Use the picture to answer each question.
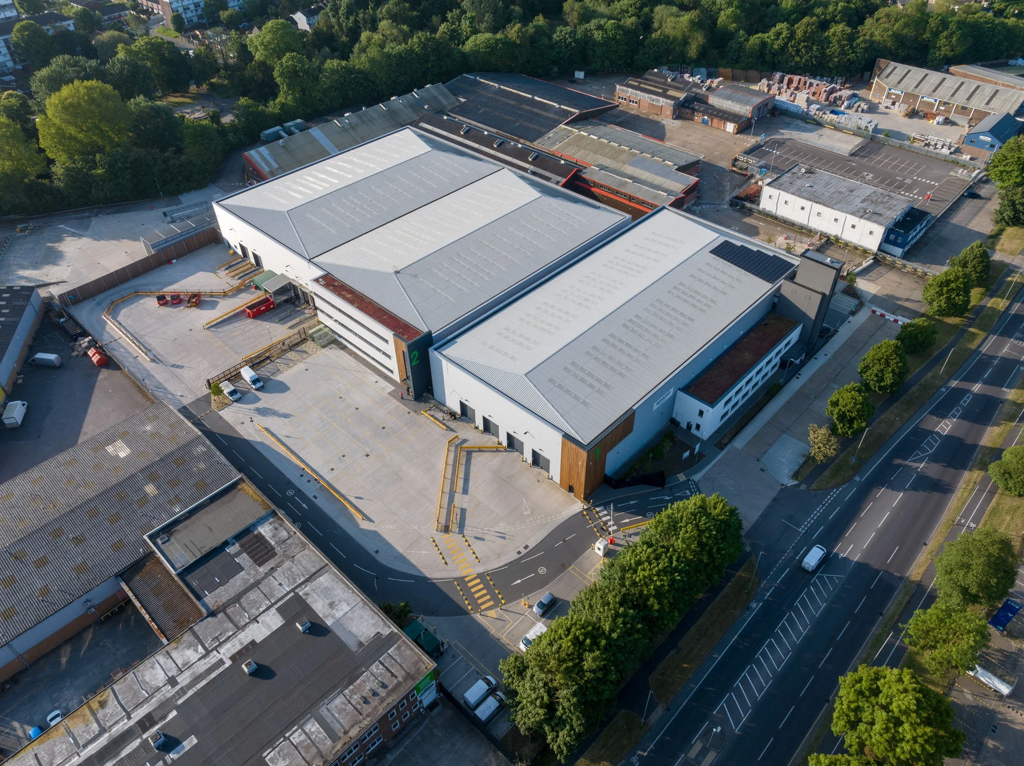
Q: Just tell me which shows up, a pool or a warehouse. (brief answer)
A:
warehouse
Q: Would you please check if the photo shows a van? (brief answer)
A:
Yes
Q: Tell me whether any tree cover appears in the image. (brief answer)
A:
Yes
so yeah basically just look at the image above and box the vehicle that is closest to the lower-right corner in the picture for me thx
[800,545,827,574]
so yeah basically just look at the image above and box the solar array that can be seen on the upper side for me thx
[710,238,785,286]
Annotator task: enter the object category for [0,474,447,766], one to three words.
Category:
building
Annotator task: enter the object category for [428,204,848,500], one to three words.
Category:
warehouse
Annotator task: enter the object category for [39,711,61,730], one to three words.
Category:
car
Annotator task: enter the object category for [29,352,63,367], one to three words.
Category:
vehicle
